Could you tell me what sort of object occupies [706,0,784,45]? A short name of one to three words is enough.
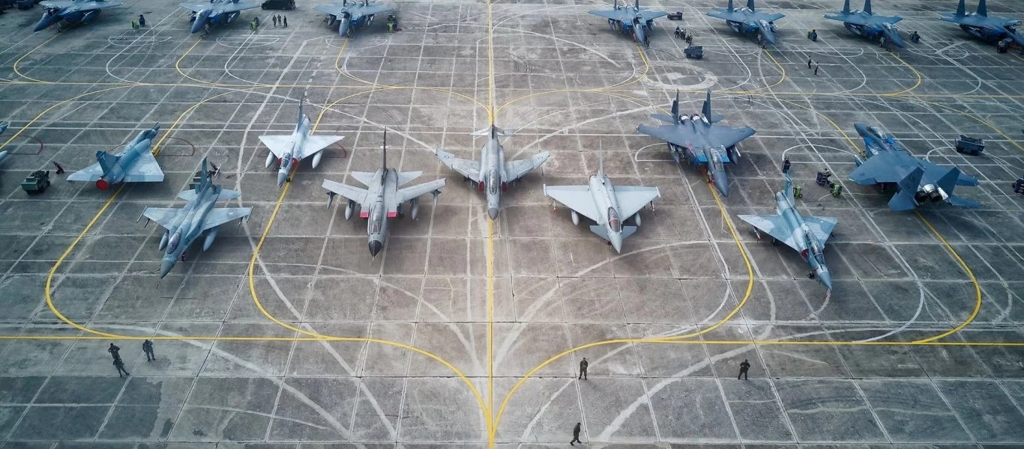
airplane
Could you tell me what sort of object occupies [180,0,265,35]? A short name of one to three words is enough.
airplane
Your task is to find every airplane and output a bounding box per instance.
[738,173,835,296]
[706,0,784,45]
[259,98,345,191]
[825,0,904,48]
[63,125,164,198]
[544,143,659,254]
[33,0,127,33]
[637,87,755,198]
[435,125,548,220]
[587,0,666,45]
[933,0,1024,52]
[136,157,254,283]
[848,125,986,215]
[312,0,395,39]
[321,129,445,261]
[180,0,265,35]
